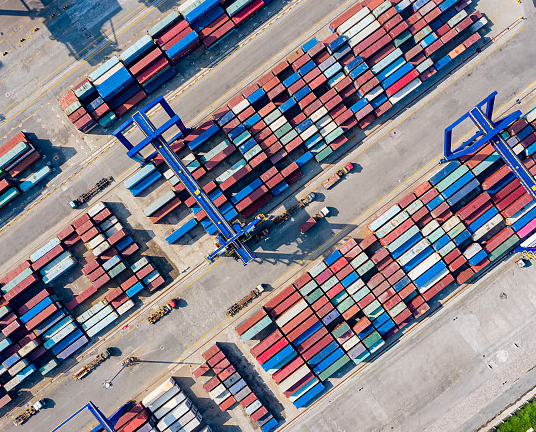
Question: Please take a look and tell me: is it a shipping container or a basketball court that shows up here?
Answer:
shipping container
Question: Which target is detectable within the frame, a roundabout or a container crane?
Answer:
container crane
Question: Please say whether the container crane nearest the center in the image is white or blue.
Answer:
blue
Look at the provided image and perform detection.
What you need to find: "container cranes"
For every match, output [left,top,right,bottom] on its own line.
[53,401,127,432]
[444,94,536,208]
[113,94,261,266]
